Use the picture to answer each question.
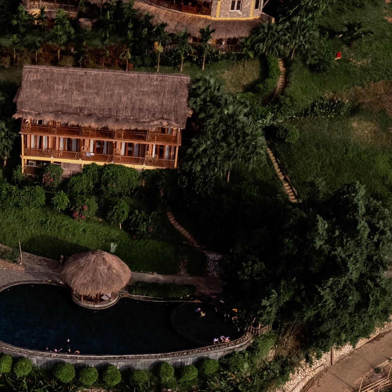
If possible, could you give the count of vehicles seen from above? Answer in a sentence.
The picture shows no vehicles.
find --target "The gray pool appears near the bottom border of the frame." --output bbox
[0,281,258,380]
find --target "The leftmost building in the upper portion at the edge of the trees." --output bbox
[7,62,195,183]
